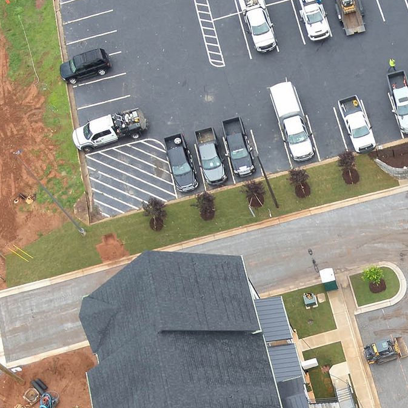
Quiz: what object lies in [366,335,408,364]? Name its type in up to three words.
work vehicle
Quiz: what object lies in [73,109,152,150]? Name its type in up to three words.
truck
